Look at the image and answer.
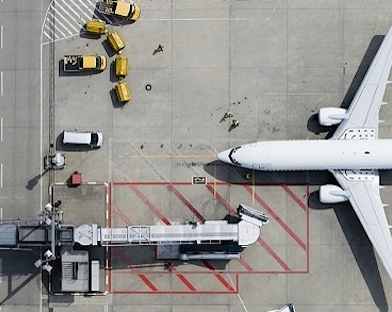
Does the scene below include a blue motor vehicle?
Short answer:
No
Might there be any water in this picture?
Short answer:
No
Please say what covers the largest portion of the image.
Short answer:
paved ground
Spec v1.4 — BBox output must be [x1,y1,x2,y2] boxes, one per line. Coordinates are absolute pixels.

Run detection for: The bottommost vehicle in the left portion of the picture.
[62,130,103,149]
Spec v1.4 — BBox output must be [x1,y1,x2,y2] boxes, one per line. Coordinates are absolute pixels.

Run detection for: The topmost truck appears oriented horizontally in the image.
[97,0,142,22]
